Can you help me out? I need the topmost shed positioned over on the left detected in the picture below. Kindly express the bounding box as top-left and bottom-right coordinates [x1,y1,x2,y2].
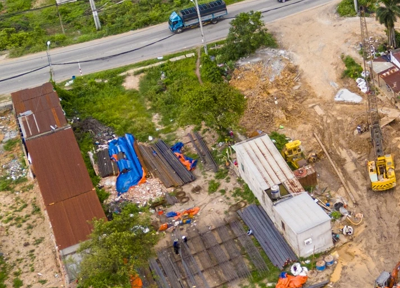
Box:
[12,81,71,162]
